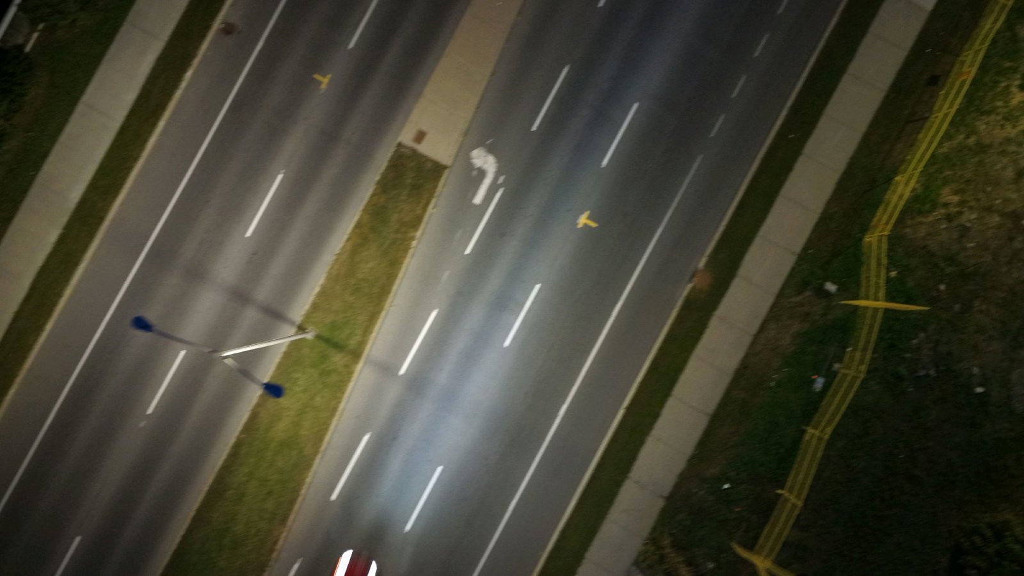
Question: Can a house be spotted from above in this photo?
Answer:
No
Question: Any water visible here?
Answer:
No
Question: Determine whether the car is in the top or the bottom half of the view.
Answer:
bottom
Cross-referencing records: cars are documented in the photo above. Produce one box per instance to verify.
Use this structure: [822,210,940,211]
[329,546,375,576]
